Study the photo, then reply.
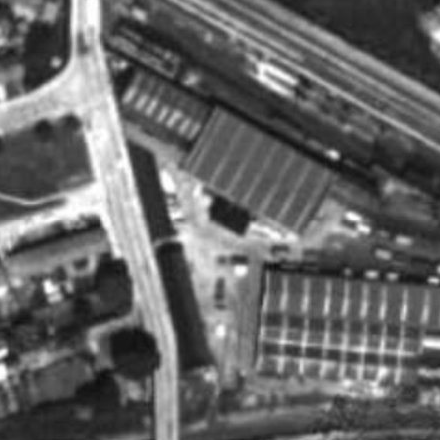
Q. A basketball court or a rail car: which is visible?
rail car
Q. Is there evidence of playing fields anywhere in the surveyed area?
No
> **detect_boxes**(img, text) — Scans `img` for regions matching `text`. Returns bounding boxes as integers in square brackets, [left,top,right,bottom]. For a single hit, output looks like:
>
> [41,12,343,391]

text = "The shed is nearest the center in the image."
[204,191,248,231]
